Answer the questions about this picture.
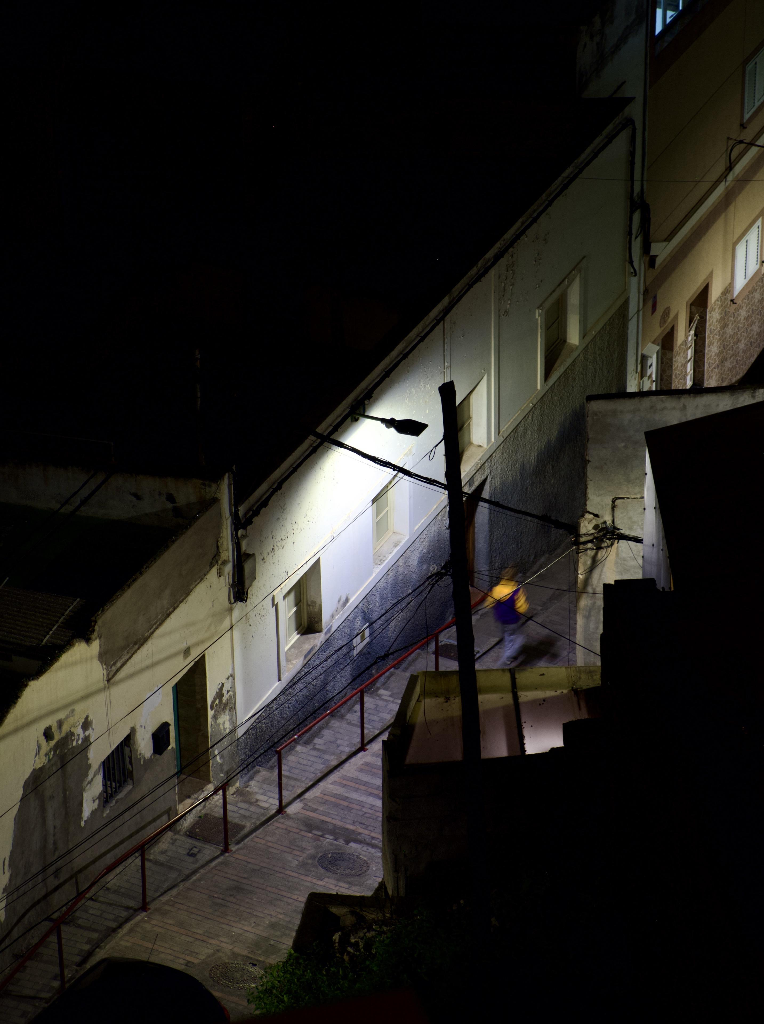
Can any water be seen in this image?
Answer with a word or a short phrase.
No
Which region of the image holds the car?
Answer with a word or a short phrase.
bottom left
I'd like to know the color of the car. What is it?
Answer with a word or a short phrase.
black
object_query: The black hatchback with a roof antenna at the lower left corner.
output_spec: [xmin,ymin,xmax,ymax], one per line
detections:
[32,921,231,1024]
